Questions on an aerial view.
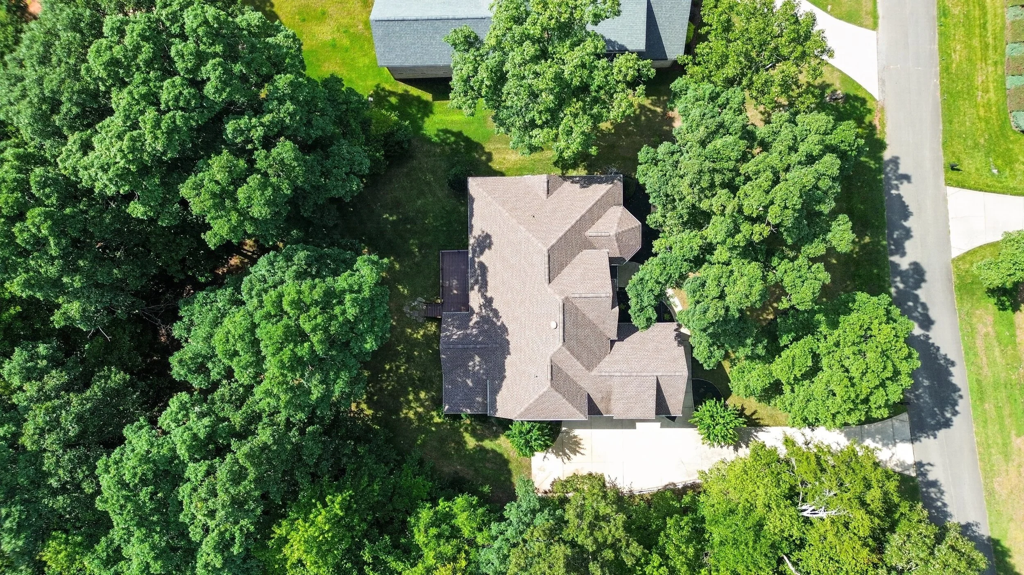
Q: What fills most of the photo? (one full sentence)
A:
The bulk of the photo consists of trees.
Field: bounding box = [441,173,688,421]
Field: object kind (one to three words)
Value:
house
